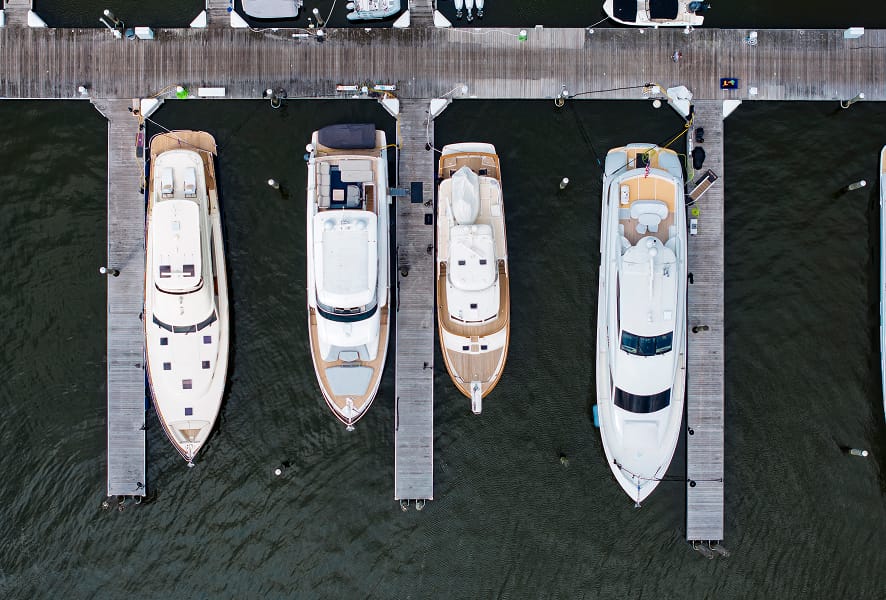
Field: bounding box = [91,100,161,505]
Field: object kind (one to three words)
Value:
pier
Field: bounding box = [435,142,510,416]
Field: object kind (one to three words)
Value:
boat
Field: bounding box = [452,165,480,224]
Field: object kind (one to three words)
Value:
boat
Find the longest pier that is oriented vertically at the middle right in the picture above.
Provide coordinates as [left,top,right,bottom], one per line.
[667,100,742,550]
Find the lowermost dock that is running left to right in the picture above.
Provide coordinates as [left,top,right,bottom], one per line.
[0,19,886,108]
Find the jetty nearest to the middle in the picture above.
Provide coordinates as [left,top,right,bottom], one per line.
[379,100,449,508]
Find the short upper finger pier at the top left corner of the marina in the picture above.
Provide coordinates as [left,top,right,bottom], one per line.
[4,0,33,27]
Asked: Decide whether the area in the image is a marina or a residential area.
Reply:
marina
